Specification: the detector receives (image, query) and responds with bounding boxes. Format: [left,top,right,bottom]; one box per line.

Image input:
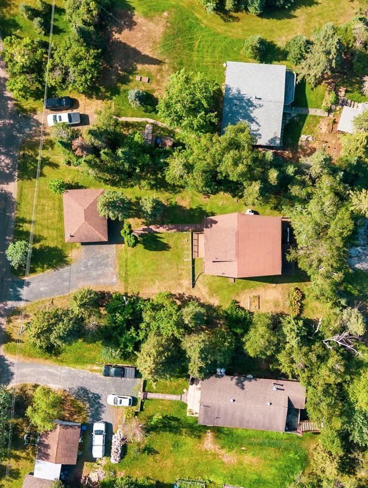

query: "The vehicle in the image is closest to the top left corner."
[45,96,75,110]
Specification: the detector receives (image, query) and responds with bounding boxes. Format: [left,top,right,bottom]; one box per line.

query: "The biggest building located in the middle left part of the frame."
[62,188,108,242]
